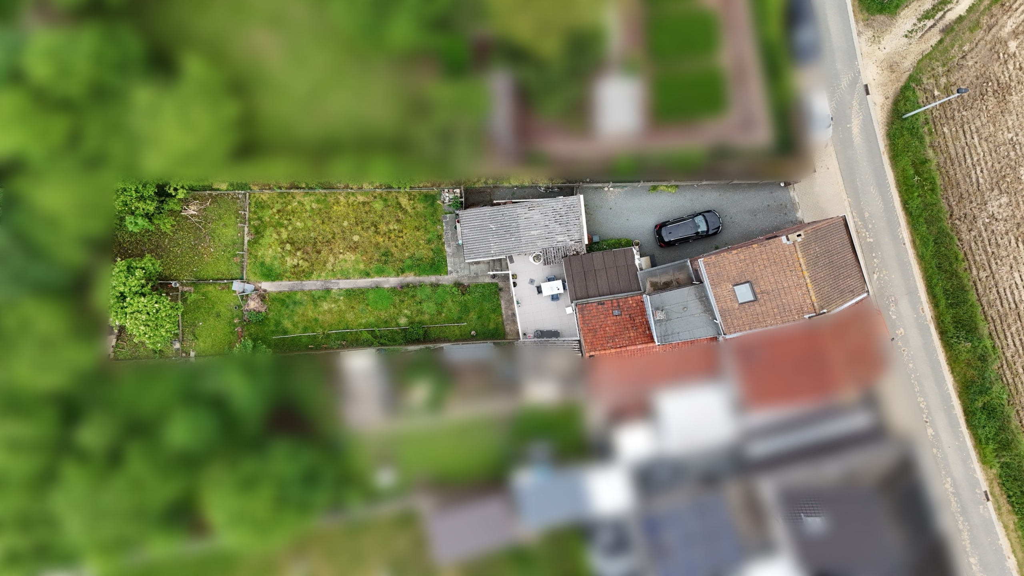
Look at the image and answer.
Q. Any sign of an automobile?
Yes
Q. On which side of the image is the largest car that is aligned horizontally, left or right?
right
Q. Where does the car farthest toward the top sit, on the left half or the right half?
right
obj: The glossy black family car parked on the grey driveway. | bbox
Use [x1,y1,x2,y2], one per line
[652,210,722,248]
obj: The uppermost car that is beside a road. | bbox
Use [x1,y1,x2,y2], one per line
[787,0,828,66]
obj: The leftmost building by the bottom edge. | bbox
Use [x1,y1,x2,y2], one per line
[428,482,518,562]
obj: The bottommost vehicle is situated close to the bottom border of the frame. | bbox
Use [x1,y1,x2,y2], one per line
[591,517,634,576]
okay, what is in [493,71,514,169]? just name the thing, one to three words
shed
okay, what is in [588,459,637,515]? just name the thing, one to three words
building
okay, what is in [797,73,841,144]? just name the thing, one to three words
van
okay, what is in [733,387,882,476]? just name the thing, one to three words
house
